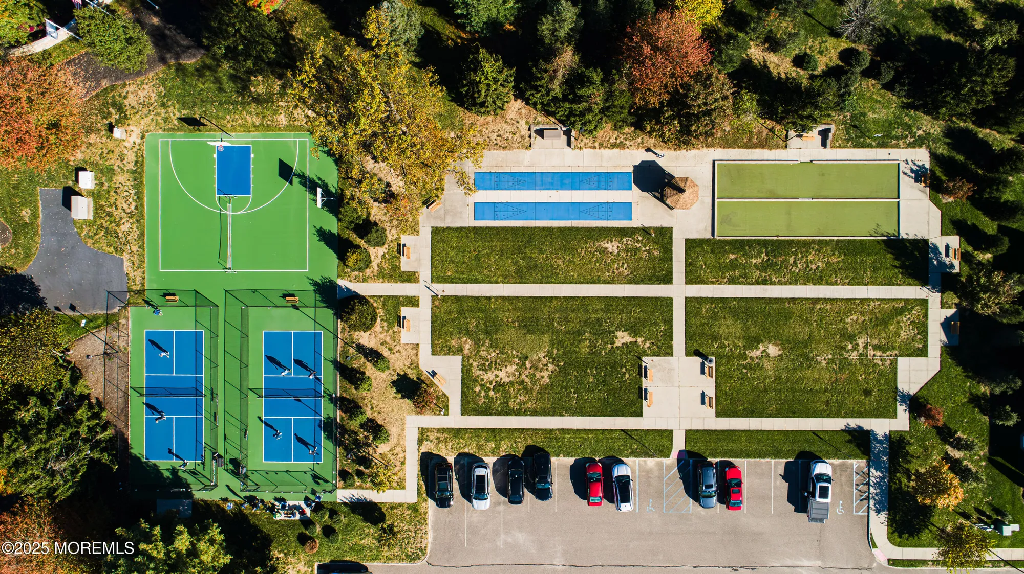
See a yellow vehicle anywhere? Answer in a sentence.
No, I can see no yellow vehicle in this picture.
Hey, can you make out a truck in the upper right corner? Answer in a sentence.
No, I see no truck in the upper right corner.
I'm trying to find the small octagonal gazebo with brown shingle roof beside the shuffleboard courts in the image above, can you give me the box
[661,175,700,211]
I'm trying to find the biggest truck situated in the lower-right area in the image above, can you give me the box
[806,458,834,523]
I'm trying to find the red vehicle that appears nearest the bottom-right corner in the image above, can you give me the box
[723,465,744,509]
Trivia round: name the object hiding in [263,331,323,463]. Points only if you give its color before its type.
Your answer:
blue sports court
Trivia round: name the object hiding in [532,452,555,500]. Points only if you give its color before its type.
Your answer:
black car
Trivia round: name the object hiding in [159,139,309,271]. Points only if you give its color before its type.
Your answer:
green basketball court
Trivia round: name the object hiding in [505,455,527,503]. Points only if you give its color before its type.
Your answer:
black car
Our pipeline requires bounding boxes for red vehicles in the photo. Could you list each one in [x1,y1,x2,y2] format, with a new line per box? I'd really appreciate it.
[584,461,604,505]
[723,465,744,509]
